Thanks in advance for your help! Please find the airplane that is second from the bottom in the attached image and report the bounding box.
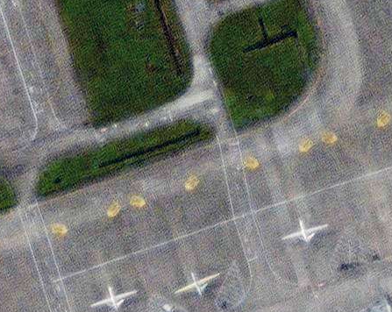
[174,272,221,295]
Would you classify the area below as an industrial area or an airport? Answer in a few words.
airport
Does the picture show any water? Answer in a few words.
No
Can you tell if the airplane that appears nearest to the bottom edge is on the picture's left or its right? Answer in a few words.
left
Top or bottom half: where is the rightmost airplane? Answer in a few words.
bottom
